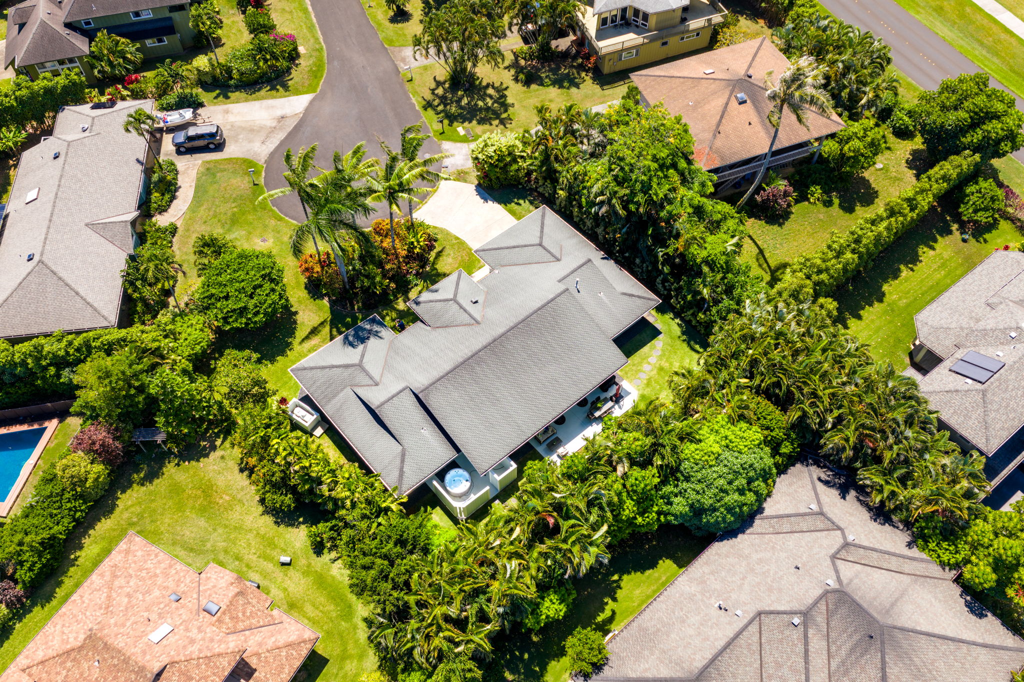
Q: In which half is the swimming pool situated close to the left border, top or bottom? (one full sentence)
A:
The swimming pool situated close to the left border sits in the bottom half of the picture.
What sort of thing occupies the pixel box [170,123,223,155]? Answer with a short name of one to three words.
car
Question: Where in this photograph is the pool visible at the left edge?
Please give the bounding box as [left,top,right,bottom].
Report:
[0,414,64,517]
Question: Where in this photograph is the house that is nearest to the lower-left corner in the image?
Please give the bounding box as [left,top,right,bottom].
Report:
[0,531,322,682]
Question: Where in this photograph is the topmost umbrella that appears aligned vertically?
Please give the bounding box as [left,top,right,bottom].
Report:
[615,384,628,411]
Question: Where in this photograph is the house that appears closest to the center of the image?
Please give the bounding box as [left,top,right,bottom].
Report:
[290,204,661,499]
